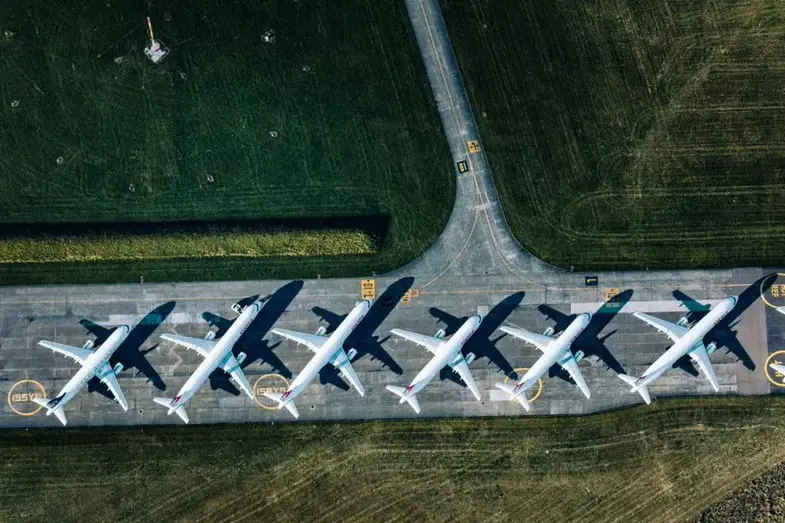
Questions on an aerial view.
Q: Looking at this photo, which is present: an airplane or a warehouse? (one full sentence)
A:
Looking from above, you can make out an airplane.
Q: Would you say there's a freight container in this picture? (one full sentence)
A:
No, I find no freight container anywhere in the image.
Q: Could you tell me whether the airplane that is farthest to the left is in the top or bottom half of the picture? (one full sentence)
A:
It is in the bottom half that the airplane that is farthest to the left appears.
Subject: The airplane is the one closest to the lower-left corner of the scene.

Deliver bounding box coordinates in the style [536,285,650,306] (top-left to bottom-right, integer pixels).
[33,325,130,424]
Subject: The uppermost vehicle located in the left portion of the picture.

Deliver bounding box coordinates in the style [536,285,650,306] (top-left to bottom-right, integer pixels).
[228,300,247,316]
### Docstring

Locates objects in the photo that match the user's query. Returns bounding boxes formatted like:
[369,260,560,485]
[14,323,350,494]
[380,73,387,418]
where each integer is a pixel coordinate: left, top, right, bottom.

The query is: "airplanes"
[153,302,263,423]
[619,296,738,403]
[386,317,482,414]
[265,301,372,418]
[498,314,593,410]
[33,325,130,424]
